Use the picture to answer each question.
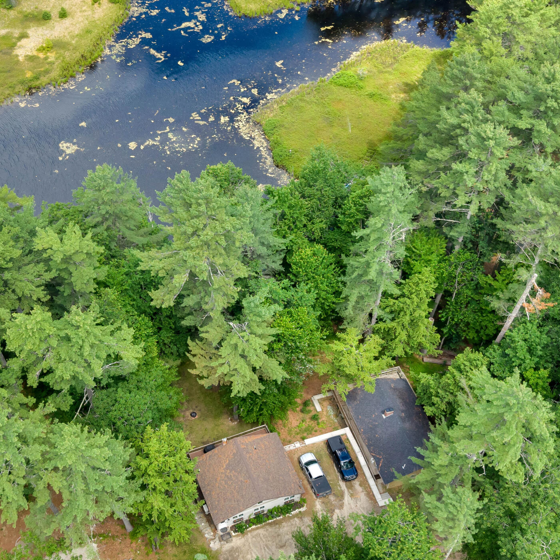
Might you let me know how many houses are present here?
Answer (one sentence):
The picture shows 2 houses.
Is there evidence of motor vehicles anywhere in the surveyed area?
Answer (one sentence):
Yes, a motor vehicle appears in the view.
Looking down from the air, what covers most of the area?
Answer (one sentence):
Most of the picture is covered by trees.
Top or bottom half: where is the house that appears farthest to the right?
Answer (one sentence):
The house that appears farthest to the right sits in the bottom half of the picture.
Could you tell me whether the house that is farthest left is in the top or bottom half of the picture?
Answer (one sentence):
The house that is farthest left sits in the bottom half of the picture.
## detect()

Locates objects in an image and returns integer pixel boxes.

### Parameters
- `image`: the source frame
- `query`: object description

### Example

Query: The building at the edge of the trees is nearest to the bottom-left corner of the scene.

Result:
[184,427,305,538]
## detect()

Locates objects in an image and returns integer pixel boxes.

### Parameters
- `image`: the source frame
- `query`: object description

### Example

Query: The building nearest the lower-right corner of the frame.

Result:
[332,368,451,499]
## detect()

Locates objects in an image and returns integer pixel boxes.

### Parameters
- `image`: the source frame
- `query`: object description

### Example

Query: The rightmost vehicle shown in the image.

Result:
[324,435,360,484]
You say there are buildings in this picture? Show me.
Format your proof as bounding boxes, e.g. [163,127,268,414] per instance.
[184,427,305,538]
[332,368,451,499]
